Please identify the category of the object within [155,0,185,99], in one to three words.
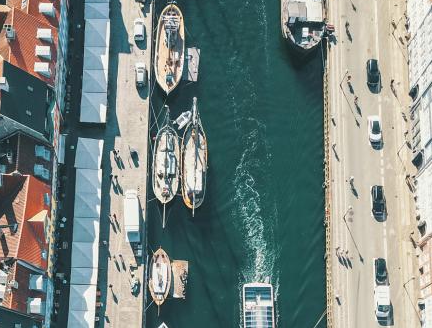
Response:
boat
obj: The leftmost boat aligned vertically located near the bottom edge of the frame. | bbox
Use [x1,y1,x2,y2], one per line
[148,243,171,319]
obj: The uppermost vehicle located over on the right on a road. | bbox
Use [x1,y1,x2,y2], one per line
[366,62,382,92]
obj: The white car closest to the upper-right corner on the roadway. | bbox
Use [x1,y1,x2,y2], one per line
[366,116,383,144]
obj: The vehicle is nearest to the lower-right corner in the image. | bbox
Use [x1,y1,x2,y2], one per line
[373,284,392,321]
